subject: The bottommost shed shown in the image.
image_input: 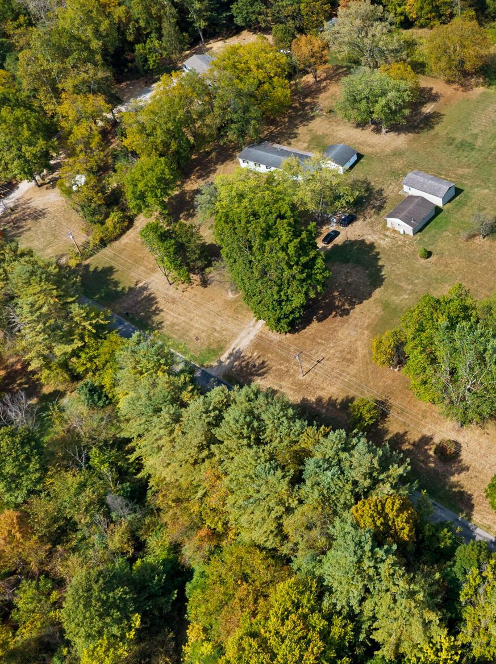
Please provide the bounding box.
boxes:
[385,194,437,234]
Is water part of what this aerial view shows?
No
